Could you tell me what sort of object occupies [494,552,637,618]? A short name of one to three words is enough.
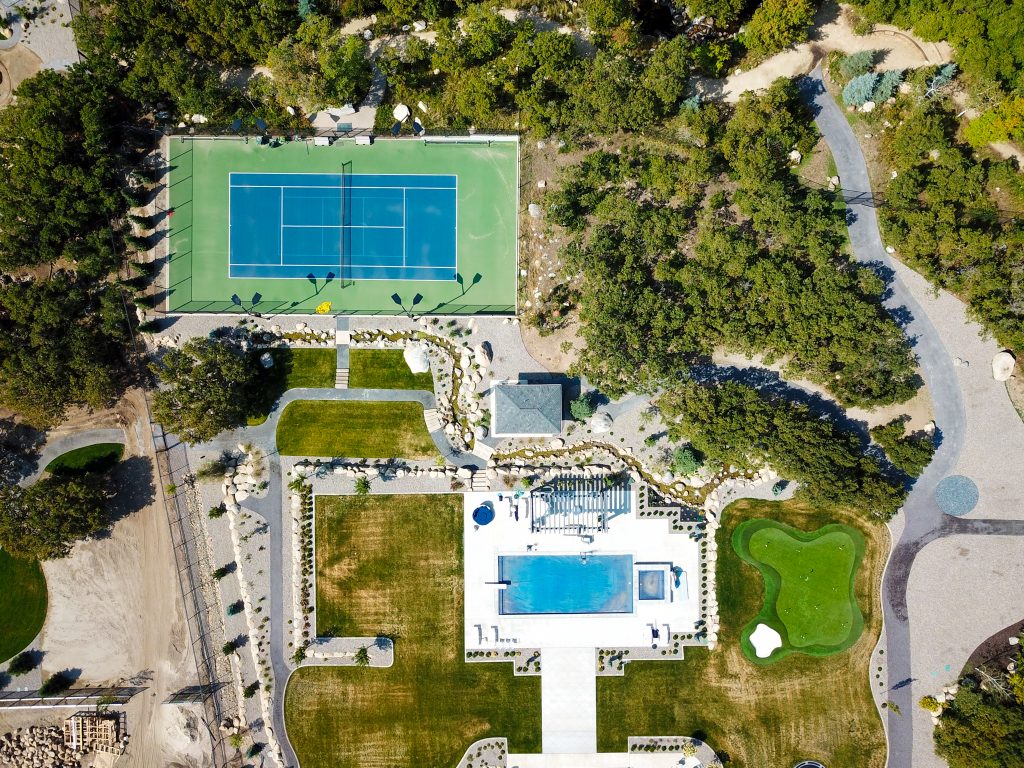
swimming pool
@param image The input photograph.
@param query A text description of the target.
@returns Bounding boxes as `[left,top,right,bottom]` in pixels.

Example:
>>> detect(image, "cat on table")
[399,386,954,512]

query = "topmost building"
[495,384,562,434]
